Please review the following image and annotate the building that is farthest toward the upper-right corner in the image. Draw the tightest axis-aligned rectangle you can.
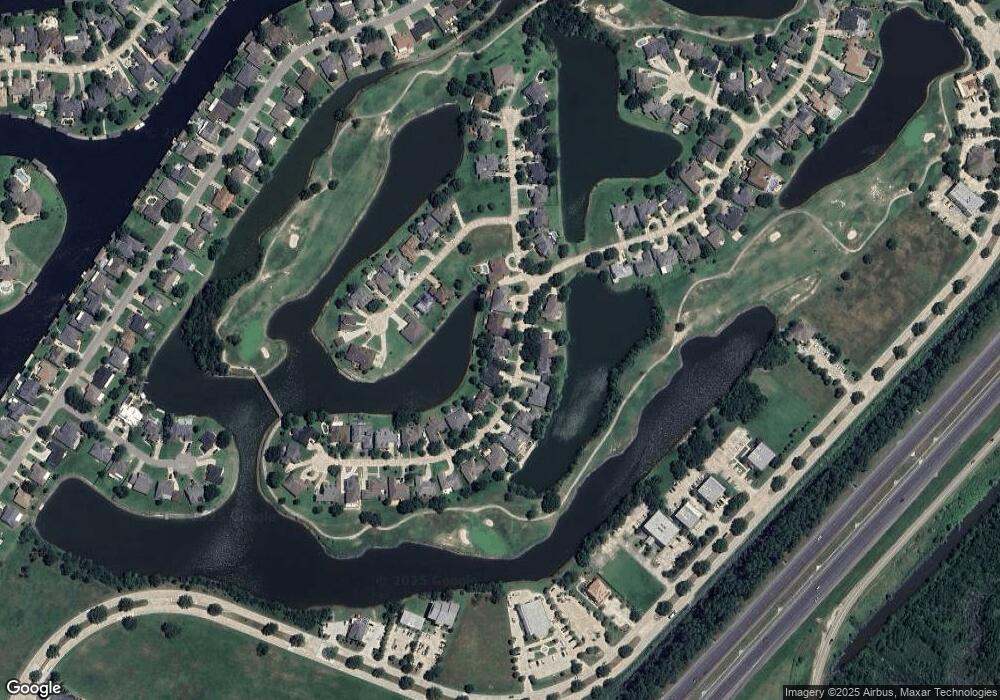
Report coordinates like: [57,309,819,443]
[953,73,979,98]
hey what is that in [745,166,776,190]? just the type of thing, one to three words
house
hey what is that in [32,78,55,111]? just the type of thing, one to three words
house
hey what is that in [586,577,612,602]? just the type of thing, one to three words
building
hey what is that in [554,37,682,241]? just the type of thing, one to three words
pond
